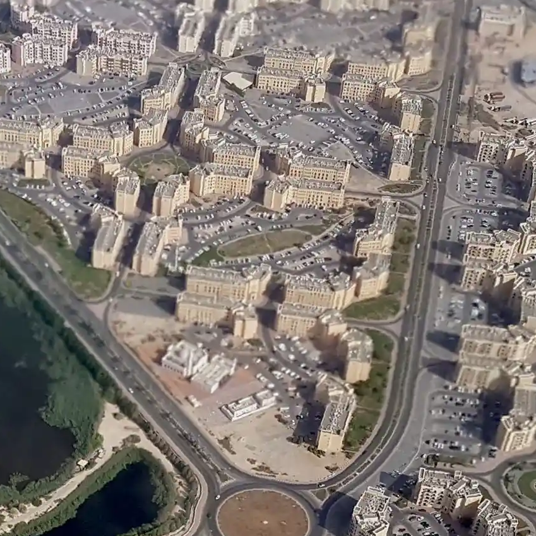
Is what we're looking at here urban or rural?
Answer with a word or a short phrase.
urban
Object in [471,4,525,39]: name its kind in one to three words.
building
